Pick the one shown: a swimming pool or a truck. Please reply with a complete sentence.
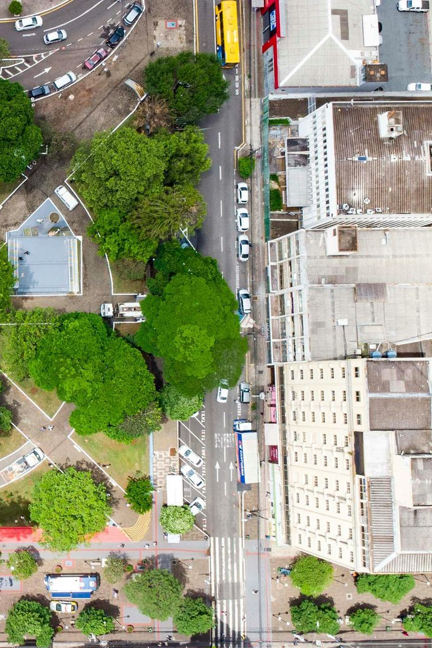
There is a truck in the scene.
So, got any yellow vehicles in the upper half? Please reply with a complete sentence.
Yes, there is a yellow vehicle in the upper half.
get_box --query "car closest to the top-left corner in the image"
[15,16,42,31]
